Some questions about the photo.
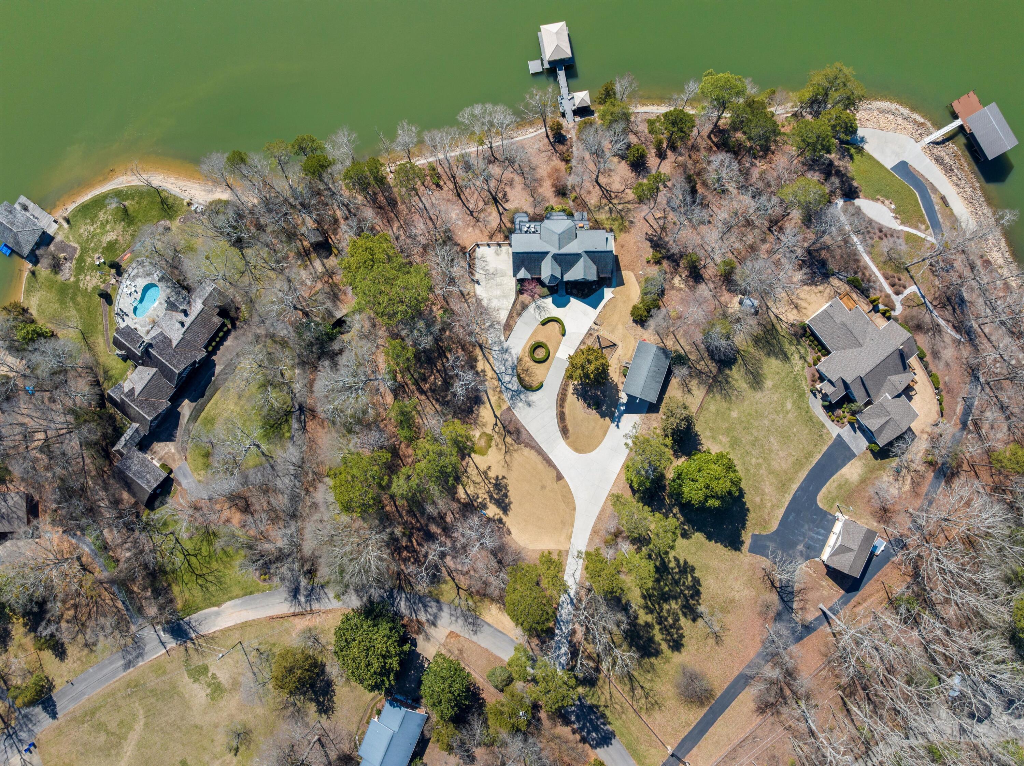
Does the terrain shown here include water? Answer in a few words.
Yes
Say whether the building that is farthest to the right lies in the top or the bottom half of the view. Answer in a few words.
top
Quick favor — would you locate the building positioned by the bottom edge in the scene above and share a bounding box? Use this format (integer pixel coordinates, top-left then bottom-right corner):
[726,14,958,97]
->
[353,693,428,766]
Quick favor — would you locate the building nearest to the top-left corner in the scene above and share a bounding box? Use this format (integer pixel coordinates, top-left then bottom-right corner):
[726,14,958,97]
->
[0,195,61,266]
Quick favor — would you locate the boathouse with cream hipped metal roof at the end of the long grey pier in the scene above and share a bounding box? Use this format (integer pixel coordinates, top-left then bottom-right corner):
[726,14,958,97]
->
[537,21,576,72]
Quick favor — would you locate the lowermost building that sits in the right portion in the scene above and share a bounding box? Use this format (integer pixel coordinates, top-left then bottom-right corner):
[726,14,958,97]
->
[816,516,879,578]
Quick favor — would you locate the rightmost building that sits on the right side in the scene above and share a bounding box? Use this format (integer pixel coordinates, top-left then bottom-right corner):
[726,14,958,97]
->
[944,90,1019,165]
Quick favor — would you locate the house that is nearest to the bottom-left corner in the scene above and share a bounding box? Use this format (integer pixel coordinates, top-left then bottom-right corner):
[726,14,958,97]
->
[0,491,41,544]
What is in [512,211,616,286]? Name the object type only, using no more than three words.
house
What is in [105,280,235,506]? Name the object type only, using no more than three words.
house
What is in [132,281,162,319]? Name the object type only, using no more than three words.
swimming pool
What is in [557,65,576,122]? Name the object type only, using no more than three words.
pier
